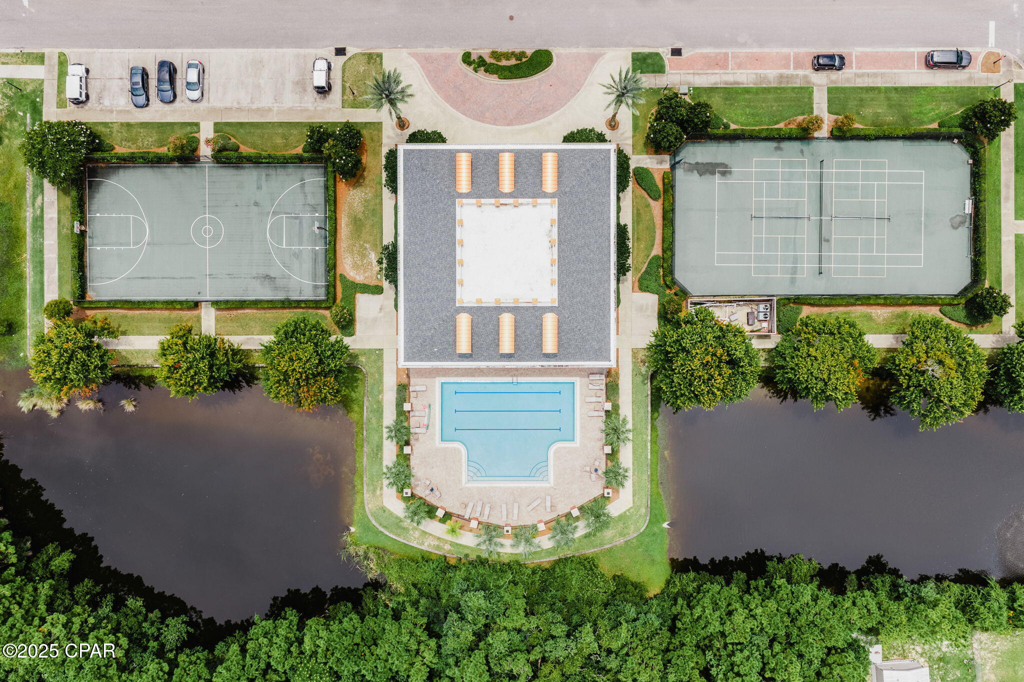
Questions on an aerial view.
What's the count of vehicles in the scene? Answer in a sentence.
In total, 7 vehicles can be seen.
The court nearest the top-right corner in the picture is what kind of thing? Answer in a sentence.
It looks like the court nearest the top-right corner is a tennis court.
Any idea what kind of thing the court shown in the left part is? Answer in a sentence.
I'd say the court shown in the left part is a basketball court.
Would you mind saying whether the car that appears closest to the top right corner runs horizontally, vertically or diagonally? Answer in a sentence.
What the image shows is the car that appears closest to the top right corner lying horizontally.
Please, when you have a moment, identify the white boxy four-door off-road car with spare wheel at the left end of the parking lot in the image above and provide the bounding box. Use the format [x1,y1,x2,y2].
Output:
[66,66,91,105]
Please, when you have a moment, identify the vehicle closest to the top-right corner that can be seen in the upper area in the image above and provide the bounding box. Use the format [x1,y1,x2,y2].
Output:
[923,48,969,71]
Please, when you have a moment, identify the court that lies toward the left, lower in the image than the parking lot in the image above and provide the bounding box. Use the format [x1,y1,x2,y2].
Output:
[85,162,328,301]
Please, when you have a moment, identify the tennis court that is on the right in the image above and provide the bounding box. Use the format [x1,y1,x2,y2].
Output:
[671,140,972,296]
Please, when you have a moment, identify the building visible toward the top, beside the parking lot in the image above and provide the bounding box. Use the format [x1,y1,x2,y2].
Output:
[397,143,617,368]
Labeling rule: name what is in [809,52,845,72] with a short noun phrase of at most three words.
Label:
car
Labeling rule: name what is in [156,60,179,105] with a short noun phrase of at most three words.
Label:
car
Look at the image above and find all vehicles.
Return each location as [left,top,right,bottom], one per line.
[156,60,179,105]
[66,66,91,105]
[129,66,152,110]
[809,52,845,72]
[312,59,332,93]
[923,48,969,71]
[184,60,206,104]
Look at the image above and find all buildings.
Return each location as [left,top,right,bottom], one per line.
[874,660,944,682]
[397,143,617,368]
